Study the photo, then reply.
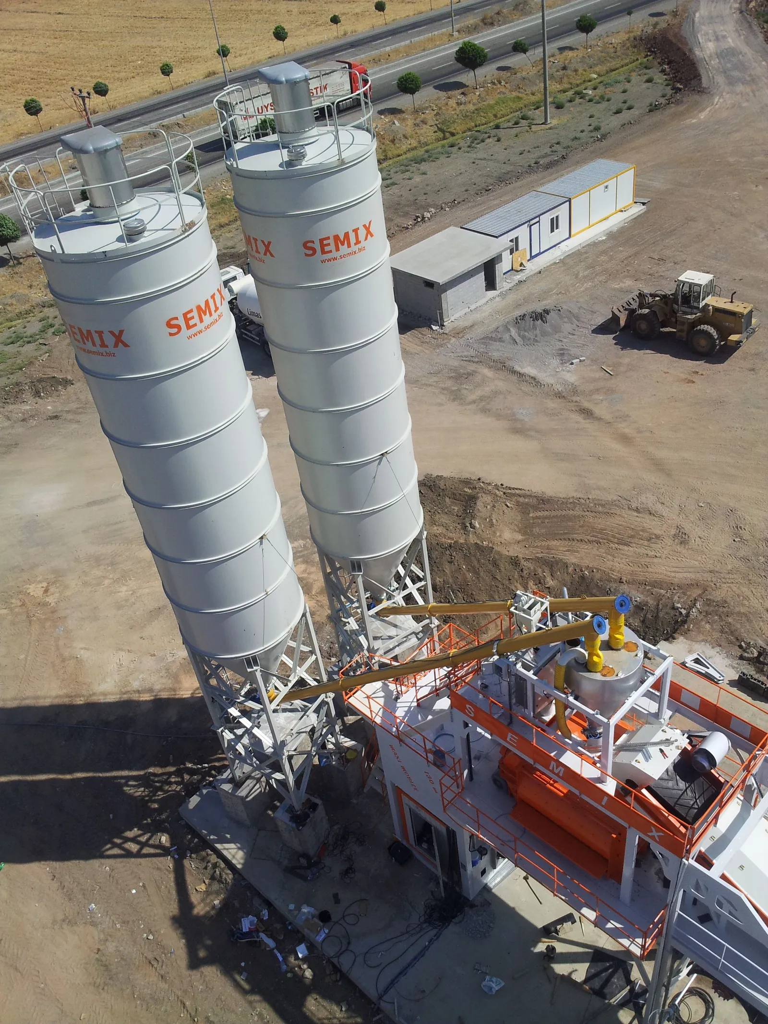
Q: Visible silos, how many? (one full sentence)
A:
I count 2 silos.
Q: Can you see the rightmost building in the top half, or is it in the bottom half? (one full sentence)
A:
The rightmost building sits in the top half of the picture.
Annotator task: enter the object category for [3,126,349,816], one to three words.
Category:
silo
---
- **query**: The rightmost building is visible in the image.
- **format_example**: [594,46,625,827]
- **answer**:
[538,158,635,236]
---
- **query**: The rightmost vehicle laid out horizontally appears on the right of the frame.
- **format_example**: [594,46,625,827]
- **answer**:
[591,270,760,357]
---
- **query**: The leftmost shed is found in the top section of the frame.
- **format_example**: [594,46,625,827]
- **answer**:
[391,231,514,319]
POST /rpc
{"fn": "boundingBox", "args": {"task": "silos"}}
[208,61,455,684]
[3,126,349,816]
